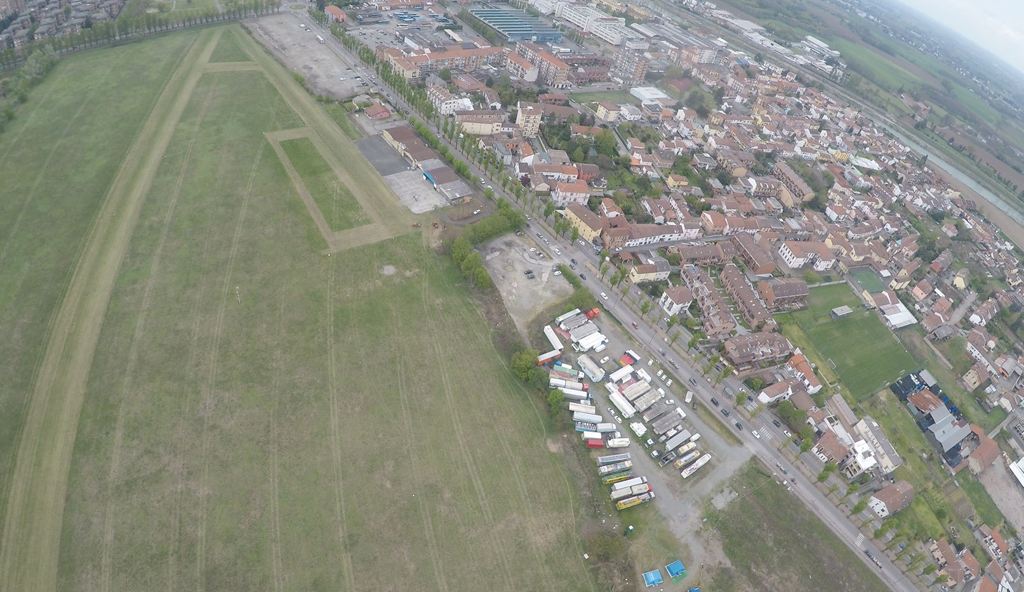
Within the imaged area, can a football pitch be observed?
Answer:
Yes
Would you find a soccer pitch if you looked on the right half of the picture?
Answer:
Yes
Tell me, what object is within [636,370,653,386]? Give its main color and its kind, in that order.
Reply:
white camper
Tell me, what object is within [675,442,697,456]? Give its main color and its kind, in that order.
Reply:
white vehicle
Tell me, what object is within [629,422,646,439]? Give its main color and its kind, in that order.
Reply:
white camper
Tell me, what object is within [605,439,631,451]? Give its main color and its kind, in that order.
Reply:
white vehicle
